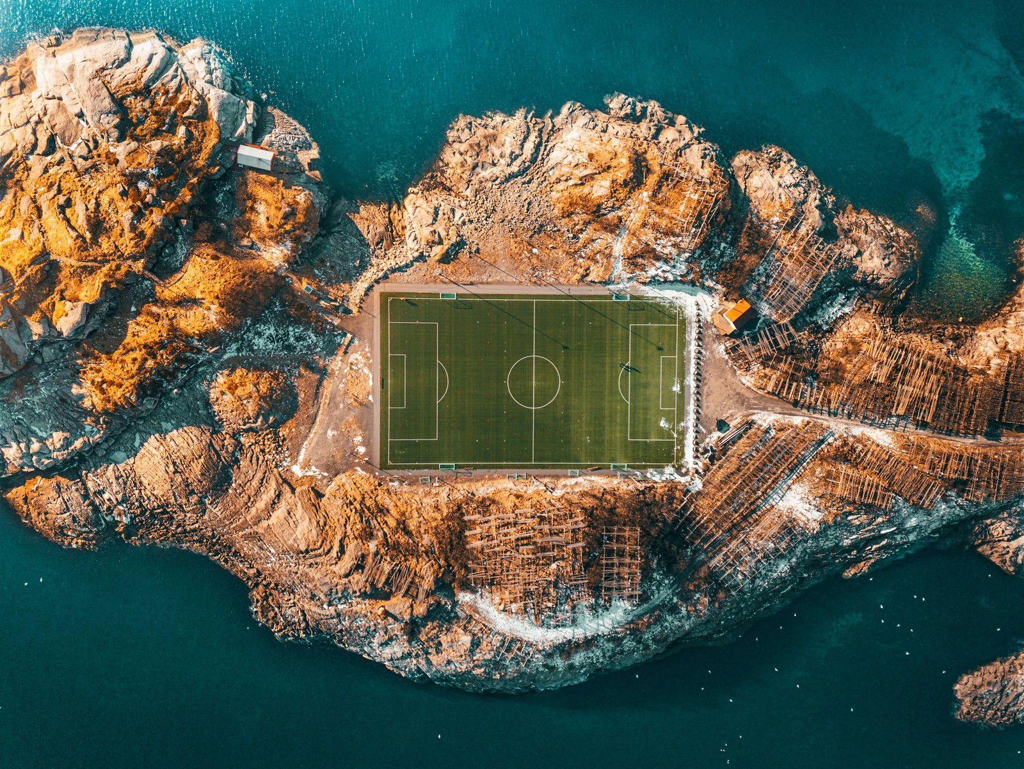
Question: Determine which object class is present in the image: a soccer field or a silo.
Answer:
soccer field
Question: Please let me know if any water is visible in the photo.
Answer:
Yes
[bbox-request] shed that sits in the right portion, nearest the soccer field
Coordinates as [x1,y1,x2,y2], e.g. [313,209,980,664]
[710,297,754,337]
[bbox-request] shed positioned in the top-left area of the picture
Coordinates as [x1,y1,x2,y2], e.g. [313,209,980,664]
[236,141,277,173]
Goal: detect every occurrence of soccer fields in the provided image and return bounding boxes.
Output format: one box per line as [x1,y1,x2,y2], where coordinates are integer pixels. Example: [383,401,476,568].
[380,292,685,470]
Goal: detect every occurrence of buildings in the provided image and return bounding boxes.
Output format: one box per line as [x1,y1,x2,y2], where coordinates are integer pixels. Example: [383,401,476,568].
[710,297,754,337]
[236,141,277,173]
